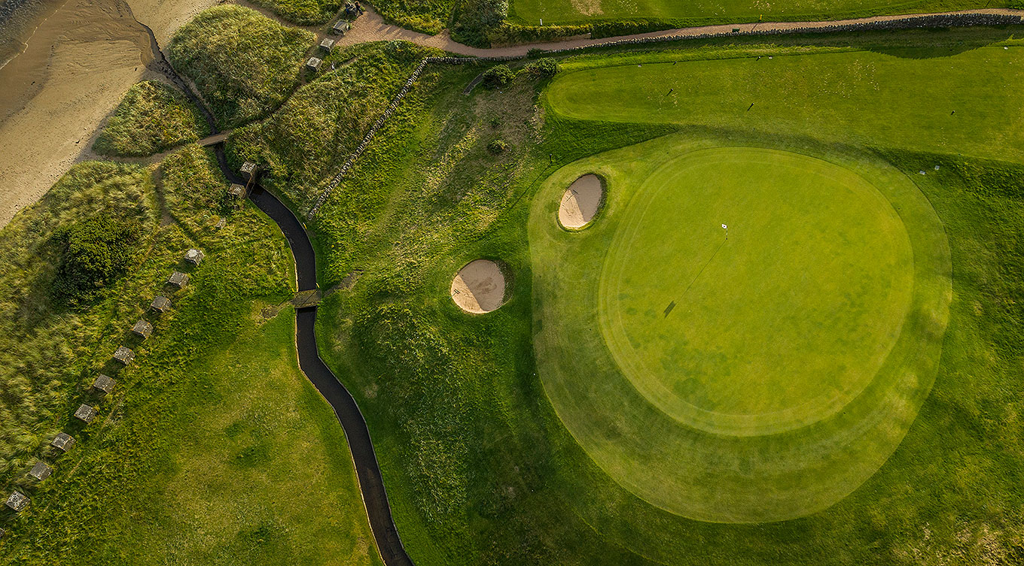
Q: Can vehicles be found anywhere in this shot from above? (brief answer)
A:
No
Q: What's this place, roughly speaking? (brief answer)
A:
golf course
